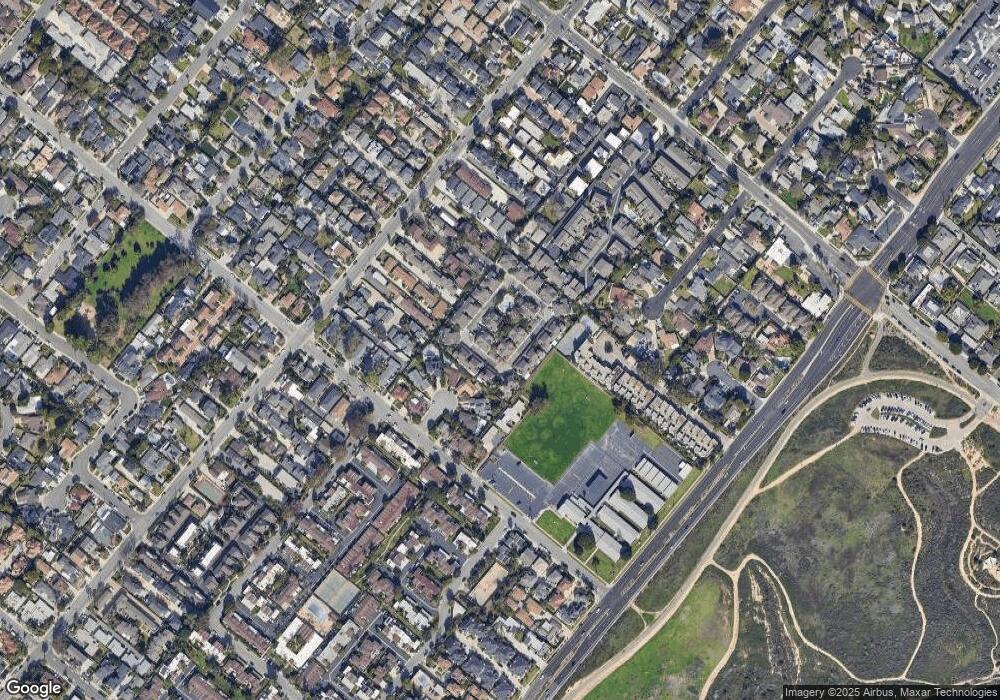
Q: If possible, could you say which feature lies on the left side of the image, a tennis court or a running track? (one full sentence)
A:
It is a tennis court that can be seen on the left side of the image.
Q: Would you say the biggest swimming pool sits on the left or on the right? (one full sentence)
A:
The biggest swimming pool sits on the left side.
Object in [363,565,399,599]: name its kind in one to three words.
building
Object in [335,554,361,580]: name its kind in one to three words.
house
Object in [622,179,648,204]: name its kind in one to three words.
building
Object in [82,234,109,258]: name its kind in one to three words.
house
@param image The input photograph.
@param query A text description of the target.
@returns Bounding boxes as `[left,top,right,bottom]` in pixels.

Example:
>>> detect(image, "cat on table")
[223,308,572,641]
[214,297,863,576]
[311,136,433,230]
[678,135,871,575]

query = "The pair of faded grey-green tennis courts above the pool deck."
[314,569,360,614]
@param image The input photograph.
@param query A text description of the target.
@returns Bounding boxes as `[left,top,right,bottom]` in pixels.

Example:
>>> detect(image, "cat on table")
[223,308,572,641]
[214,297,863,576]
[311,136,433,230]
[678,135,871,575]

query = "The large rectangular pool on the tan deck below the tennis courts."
[298,595,339,633]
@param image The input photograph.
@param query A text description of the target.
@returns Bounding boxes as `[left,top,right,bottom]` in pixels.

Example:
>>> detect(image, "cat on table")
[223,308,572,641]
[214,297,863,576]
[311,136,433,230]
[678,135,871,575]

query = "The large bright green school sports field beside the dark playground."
[500,347,616,488]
